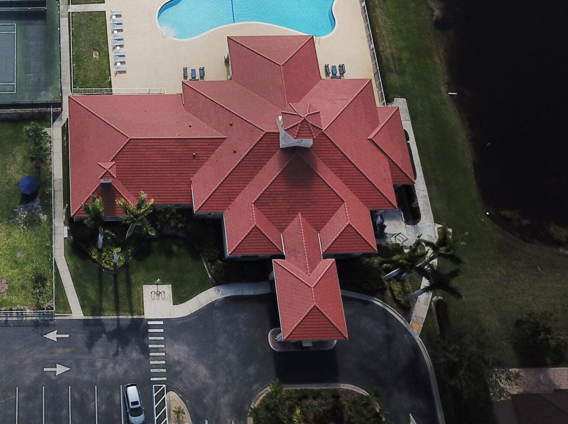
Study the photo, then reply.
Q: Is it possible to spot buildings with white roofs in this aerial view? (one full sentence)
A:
No, I can't see a single building with a white roof in this photo.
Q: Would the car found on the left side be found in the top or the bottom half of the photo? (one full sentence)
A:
You can find the car found on the left side in the bottom half.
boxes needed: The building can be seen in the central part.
[68,34,416,343]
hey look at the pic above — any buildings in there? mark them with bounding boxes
[488,375,568,424]
[68,34,416,343]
